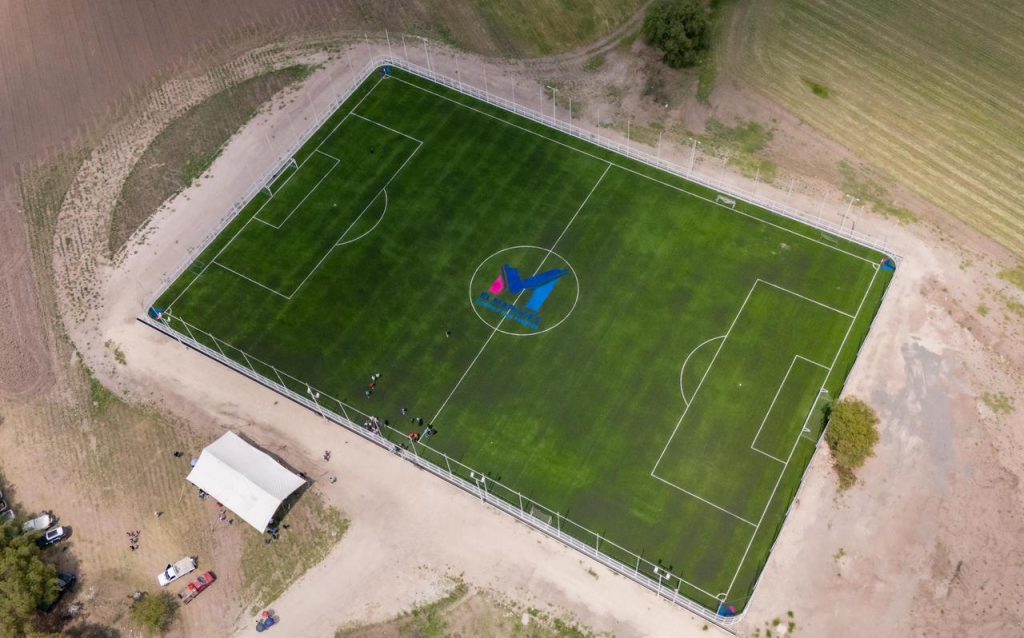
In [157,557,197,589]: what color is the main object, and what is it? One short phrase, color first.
white truck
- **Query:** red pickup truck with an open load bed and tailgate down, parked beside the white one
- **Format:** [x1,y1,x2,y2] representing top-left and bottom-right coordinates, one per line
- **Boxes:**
[177,571,218,607]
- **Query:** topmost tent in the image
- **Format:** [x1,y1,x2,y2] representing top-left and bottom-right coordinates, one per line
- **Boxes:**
[181,429,325,553]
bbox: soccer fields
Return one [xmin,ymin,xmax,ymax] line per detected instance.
[151,66,895,615]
